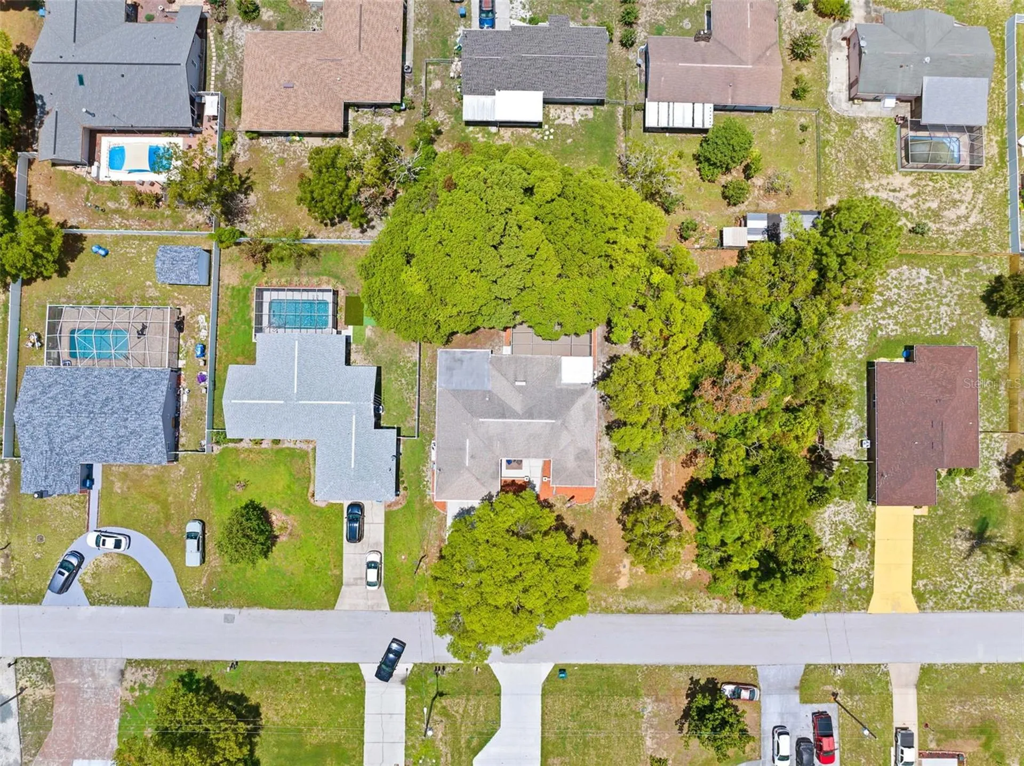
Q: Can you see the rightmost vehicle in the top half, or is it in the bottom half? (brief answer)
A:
bottom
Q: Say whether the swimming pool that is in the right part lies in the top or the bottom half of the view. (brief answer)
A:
top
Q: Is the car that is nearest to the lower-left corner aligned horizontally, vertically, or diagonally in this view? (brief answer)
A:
diagonally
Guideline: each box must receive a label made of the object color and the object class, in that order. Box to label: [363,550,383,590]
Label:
white car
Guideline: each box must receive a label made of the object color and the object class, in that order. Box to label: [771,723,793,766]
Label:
white car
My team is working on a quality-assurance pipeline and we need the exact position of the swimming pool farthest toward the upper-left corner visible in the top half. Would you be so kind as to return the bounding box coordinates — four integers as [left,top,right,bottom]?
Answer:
[100,137,182,180]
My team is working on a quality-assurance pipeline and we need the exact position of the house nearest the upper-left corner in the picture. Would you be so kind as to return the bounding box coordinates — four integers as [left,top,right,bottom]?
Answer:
[26,0,209,167]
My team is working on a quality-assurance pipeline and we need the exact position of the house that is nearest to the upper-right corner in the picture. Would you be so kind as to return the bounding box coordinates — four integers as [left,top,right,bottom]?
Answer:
[845,6,998,131]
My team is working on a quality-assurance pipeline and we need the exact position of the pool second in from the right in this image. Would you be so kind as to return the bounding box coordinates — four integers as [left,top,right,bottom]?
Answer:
[256,292,337,335]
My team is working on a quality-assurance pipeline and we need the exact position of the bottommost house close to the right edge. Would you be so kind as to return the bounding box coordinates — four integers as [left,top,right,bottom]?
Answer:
[869,345,980,506]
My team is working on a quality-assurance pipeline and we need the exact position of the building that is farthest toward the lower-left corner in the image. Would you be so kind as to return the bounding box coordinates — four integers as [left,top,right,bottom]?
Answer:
[11,366,179,496]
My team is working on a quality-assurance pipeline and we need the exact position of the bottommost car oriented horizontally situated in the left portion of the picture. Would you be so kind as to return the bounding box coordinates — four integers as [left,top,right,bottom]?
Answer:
[88,530,132,551]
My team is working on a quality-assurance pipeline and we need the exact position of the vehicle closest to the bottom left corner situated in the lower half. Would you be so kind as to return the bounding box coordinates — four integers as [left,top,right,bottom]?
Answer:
[46,550,85,595]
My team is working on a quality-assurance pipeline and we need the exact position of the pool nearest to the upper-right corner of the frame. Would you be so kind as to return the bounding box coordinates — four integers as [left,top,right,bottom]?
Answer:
[901,123,981,169]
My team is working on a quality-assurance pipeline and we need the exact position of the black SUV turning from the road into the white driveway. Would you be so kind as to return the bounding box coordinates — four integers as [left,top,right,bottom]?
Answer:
[376,637,406,682]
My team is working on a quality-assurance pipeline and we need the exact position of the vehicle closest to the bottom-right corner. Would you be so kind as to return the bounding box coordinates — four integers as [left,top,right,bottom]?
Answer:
[892,725,919,766]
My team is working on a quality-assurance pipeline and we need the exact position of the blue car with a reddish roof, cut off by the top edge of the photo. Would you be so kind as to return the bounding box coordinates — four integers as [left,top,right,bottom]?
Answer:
[476,0,496,28]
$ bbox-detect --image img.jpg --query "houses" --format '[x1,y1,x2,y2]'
[643,0,785,134]
[26,0,209,167]
[242,0,404,135]
[222,333,396,502]
[461,13,609,130]
[869,345,980,506]
[436,350,597,501]
[11,366,179,496]
[845,6,998,131]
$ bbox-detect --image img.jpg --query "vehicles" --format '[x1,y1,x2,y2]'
[892,725,919,766]
[183,519,207,566]
[771,723,793,766]
[376,637,406,682]
[88,530,132,551]
[363,550,383,590]
[794,736,816,766]
[720,681,760,702]
[343,501,365,543]
[476,0,496,28]
[812,710,838,764]
[46,550,85,595]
